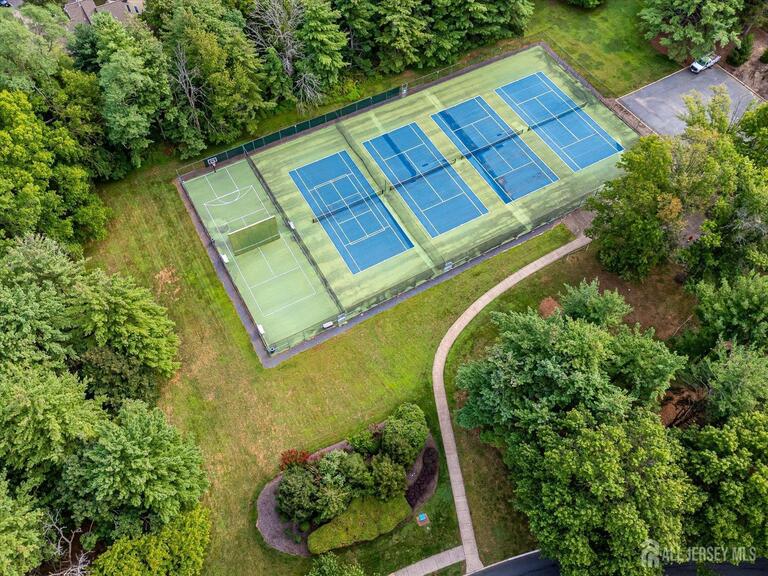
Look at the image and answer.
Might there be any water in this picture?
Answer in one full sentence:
No, no water is visible.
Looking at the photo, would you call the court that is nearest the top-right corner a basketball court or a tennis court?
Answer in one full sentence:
It turns out the court that is nearest the top-right corner is a tennis court.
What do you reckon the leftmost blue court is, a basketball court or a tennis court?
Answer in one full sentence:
It turns out the leftmost blue court is a tennis court.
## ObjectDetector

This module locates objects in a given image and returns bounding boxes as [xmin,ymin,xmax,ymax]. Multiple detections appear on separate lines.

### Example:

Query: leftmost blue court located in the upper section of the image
[288,149,415,275]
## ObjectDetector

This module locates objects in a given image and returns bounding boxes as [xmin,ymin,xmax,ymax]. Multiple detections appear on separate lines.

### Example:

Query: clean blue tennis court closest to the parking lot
[495,71,624,172]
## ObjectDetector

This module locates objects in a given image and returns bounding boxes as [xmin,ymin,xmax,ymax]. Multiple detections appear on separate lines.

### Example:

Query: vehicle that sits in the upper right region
[685,53,720,76]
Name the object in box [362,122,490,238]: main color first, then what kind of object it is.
blue tennis court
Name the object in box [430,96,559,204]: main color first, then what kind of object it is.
blue tennis court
